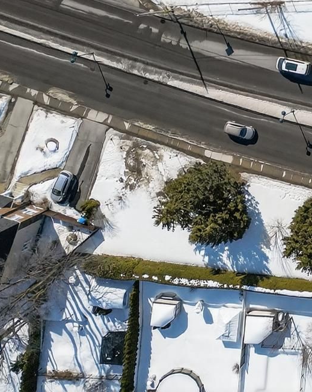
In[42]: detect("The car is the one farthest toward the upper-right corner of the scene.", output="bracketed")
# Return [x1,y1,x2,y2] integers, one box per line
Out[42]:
[278,56,312,78]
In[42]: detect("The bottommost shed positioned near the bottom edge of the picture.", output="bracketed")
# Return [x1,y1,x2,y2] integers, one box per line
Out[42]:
[239,353,295,392]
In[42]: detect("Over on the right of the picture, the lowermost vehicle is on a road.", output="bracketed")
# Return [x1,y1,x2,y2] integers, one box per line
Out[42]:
[225,122,256,140]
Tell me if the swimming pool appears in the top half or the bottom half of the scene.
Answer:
bottom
